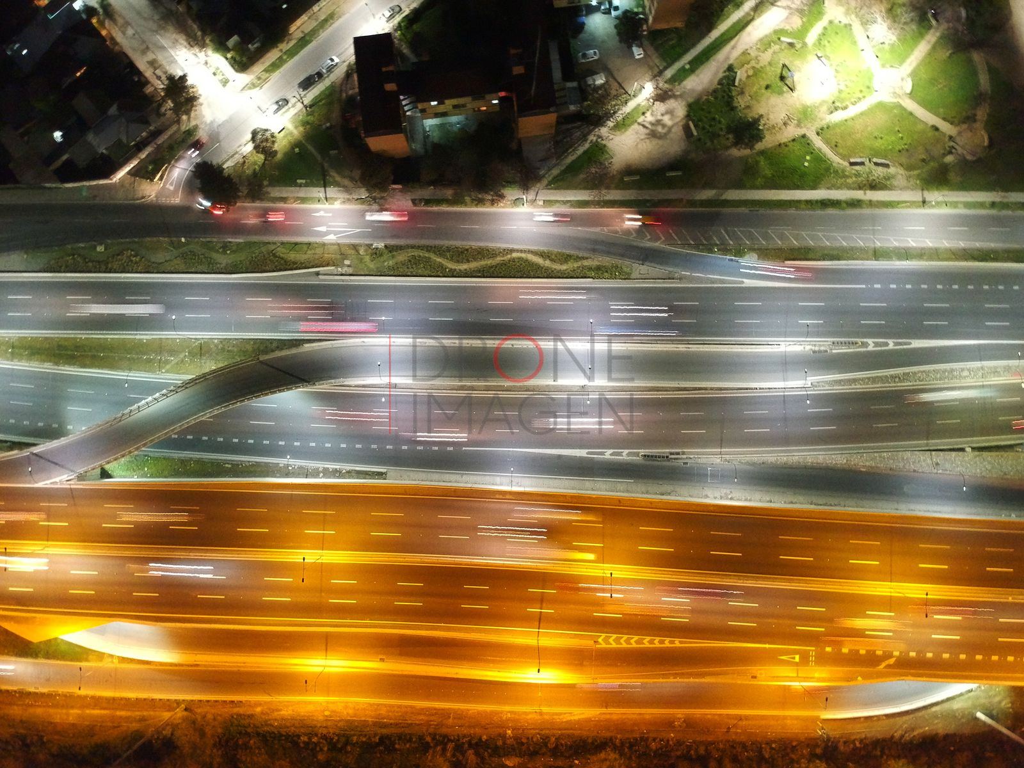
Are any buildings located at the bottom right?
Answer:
No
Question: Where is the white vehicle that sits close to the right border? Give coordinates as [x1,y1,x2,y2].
[919,387,980,404]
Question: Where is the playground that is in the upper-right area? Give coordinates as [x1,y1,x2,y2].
[735,39,839,134]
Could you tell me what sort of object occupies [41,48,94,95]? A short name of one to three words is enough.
house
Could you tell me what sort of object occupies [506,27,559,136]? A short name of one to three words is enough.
building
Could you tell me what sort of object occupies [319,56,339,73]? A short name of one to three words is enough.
car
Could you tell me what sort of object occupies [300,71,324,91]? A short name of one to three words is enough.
vehicle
